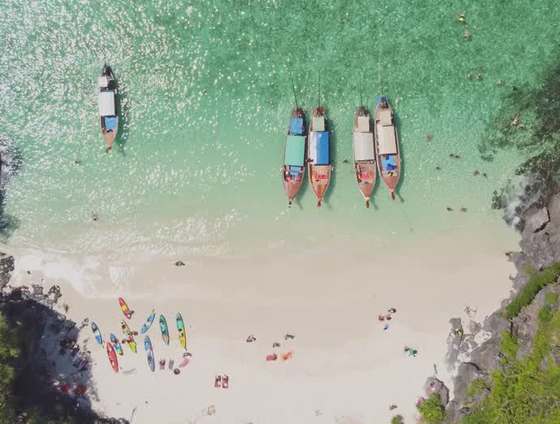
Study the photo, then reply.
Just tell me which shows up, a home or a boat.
boat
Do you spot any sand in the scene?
Yes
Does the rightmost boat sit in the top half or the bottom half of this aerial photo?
top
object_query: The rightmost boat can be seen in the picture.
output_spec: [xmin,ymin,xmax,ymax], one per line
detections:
[377,67,402,203]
